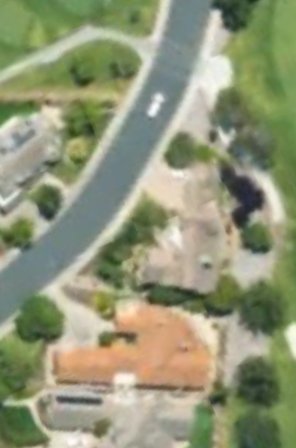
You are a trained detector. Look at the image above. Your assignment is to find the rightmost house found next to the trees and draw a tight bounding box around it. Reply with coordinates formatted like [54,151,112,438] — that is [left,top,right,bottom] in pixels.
[140,174,226,291]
